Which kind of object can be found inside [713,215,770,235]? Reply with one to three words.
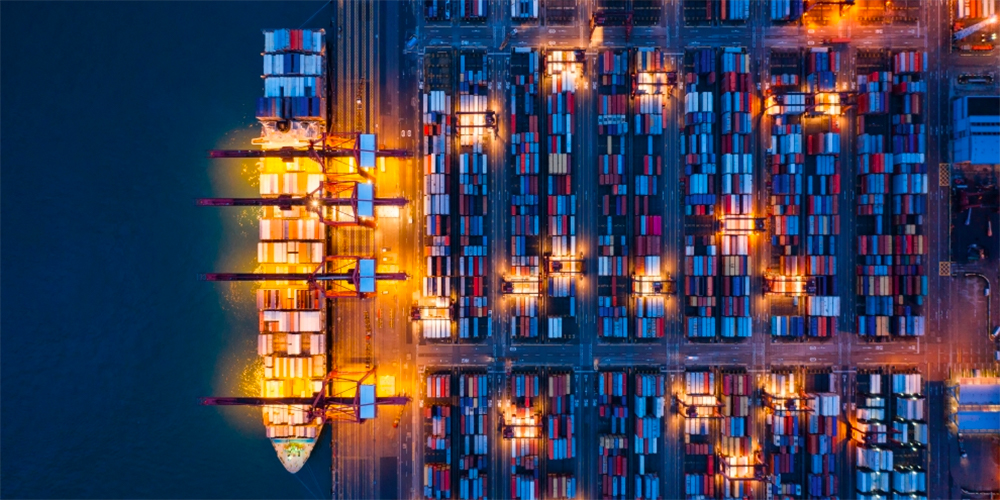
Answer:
container crane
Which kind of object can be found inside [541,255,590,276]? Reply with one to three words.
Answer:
container crane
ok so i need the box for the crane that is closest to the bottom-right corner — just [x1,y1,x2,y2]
[846,419,910,447]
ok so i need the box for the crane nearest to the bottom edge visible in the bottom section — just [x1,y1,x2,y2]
[716,452,770,481]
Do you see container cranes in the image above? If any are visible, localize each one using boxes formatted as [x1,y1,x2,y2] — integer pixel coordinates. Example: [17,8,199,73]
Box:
[541,255,590,276]
[541,47,590,76]
[759,274,821,297]
[498,274,546,297]
[716,452,770,481]
[801,89,862,115]
[802,0,862,24]
[759,387,819,414]
[713,215,770,235]
[202,362,413,425]
[846,419,910,447]
[452,110,499,136]
[585,7,637,37]
[498,413,546,441]
[628,68,681,97]
[202,251,413,300]
[189,179,413,230]
[204,130,413,183]
[672,393,728,420]
[628,275,681,297]
[407,300,457,322]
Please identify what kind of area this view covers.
port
